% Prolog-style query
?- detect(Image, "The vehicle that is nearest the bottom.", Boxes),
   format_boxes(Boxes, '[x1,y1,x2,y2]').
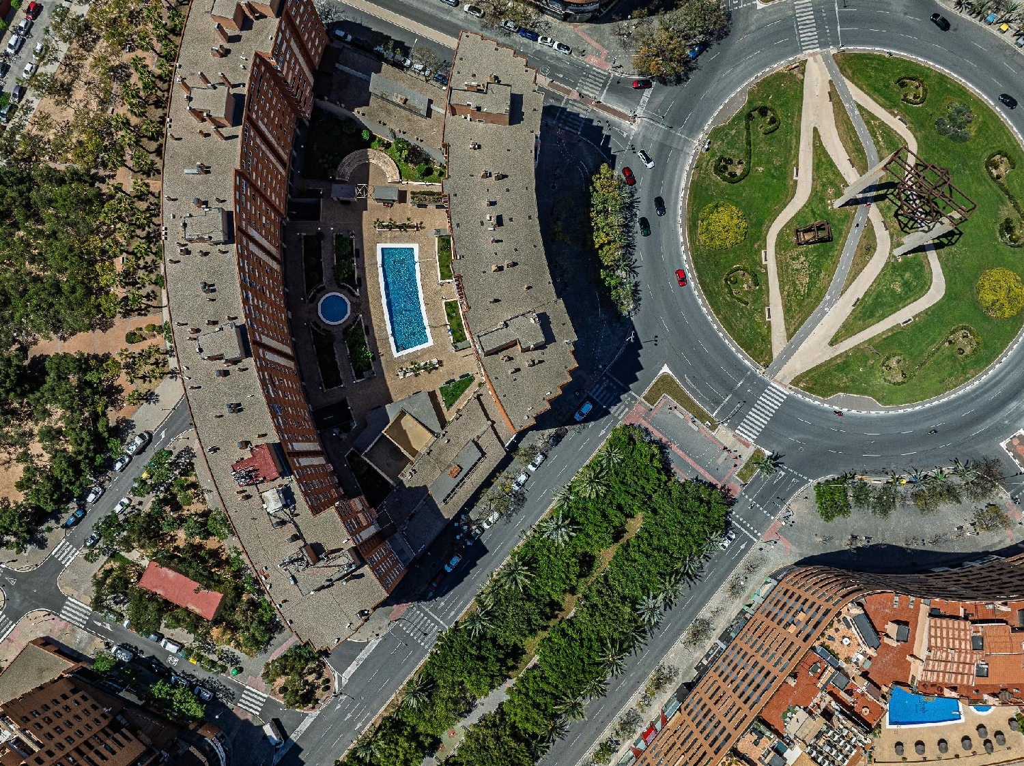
[257,717,283,753]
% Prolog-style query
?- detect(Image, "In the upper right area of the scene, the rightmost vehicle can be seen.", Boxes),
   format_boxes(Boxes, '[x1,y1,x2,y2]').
[998,91,1021,109]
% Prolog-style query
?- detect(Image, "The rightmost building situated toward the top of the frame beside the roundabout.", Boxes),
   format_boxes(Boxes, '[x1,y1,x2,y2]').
[442,30,578,435]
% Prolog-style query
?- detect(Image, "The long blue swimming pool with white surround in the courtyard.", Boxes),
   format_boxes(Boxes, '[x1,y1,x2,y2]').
[377,243,433,357]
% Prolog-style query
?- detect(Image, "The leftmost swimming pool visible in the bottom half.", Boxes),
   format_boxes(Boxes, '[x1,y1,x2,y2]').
[886,684,965,728]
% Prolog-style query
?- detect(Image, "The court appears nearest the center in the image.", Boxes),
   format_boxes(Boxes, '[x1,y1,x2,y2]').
[382,407,438,459]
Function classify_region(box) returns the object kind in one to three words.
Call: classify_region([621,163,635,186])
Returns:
car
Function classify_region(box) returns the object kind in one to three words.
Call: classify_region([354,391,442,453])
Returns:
building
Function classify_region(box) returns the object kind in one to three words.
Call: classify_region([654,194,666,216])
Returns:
vehicle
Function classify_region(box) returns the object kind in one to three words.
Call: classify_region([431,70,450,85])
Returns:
car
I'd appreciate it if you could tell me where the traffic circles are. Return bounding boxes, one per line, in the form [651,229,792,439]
[678,50,1024,414]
